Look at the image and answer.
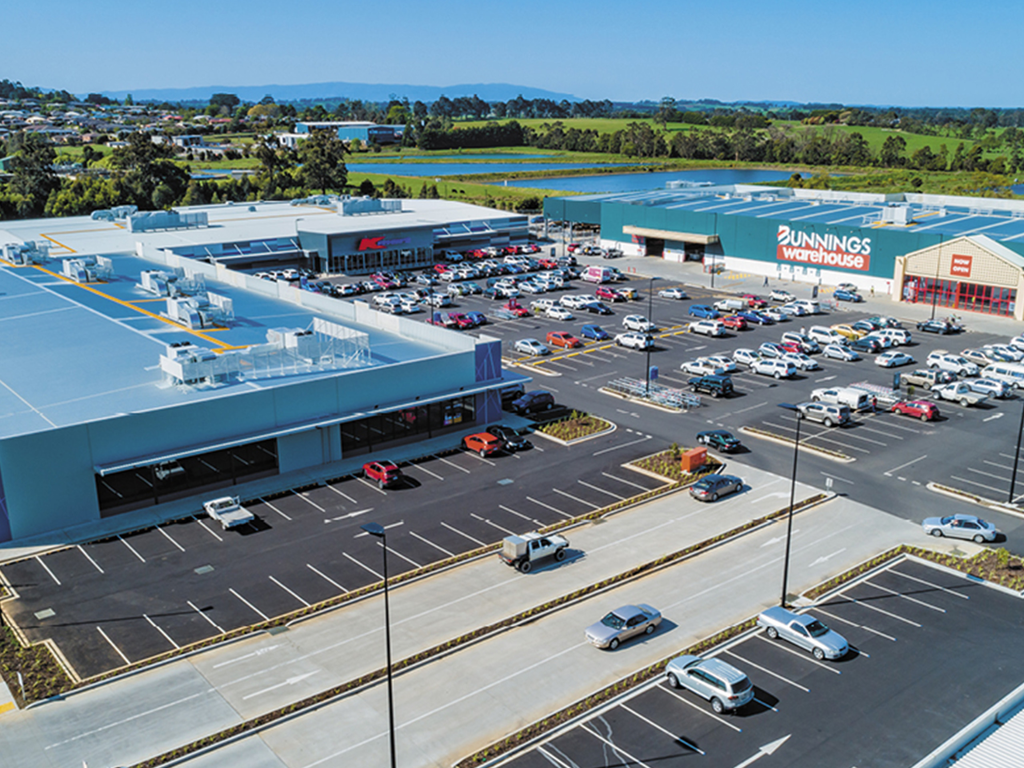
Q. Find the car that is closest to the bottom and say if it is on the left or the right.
right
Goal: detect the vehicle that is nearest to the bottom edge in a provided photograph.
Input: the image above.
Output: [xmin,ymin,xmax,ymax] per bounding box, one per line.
[668,657,765,718]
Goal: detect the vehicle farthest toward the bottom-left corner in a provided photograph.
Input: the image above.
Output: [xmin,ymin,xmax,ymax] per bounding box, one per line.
[207,496,256,535]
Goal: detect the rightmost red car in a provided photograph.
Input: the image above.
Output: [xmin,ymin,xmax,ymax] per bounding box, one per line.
[892,401,944,423]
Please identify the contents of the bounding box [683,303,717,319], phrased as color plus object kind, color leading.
blue car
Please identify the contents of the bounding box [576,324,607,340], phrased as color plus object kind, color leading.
blue car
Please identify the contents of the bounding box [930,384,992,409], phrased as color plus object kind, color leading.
white vehicle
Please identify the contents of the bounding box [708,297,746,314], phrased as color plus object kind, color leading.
white vehicle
